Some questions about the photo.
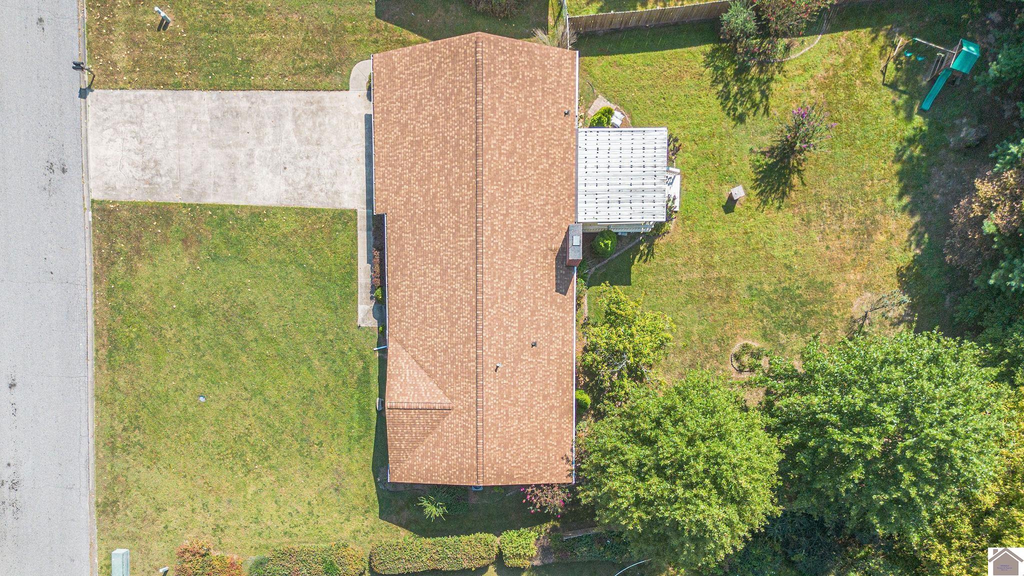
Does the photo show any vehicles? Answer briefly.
No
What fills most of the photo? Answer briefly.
grass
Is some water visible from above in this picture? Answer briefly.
No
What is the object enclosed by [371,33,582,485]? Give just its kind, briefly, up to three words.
house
